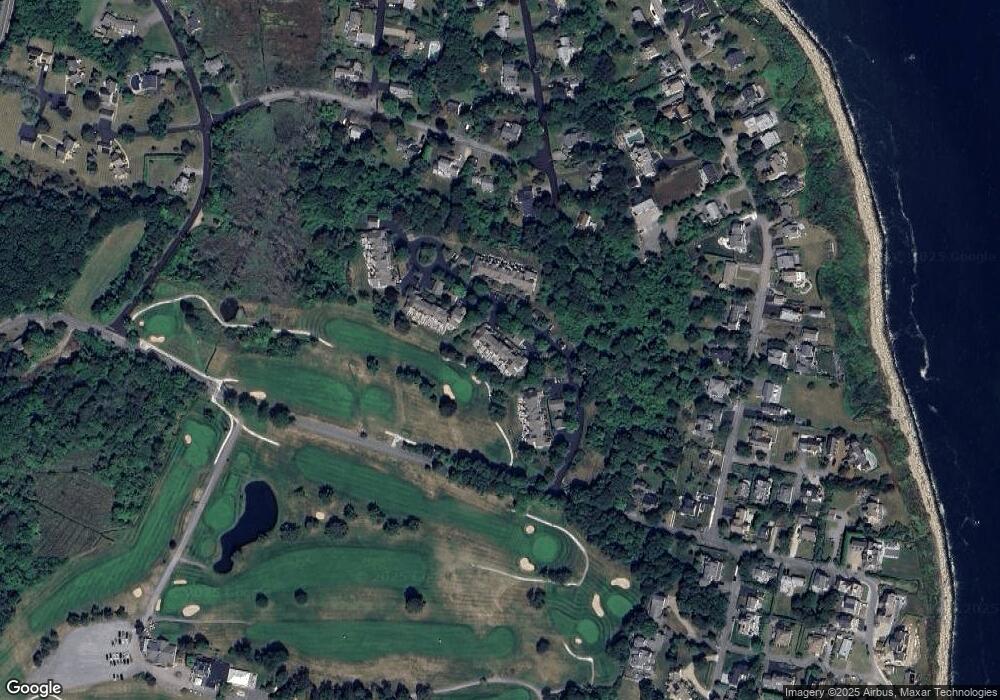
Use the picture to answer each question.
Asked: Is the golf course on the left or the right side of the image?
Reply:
left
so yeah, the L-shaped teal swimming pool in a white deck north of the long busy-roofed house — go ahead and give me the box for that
[625,128,644,145]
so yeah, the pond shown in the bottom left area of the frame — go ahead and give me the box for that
[214,481,278,573]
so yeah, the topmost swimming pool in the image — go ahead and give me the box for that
[428,40,440,60]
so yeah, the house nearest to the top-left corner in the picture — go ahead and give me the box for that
[25,45,53,67]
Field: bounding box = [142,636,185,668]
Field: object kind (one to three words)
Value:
building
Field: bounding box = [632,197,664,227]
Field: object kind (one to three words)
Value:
building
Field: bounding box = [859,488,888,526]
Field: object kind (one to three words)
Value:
house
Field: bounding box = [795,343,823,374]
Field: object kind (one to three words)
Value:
house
